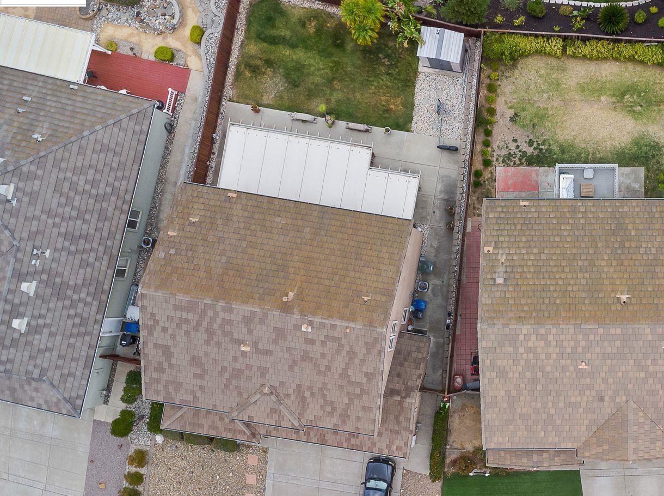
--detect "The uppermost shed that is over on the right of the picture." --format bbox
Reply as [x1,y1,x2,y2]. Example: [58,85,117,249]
[418,27,466,71]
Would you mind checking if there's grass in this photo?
Yes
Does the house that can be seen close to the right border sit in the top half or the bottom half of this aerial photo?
bottom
